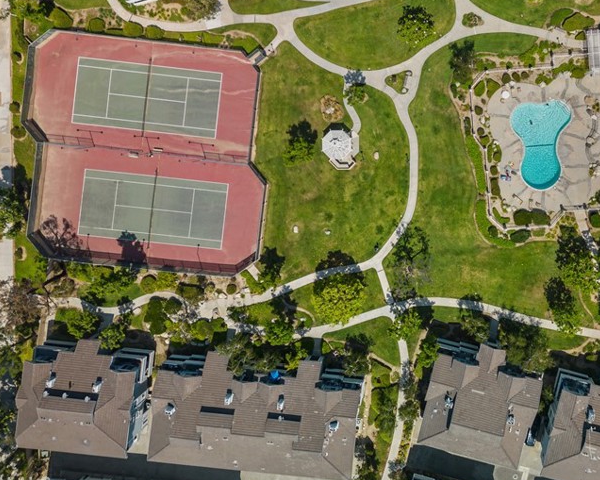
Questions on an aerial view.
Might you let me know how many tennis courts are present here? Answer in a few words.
2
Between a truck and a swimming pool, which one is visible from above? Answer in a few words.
swimming pool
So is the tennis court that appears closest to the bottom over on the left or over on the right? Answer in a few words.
left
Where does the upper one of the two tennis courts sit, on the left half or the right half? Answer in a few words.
left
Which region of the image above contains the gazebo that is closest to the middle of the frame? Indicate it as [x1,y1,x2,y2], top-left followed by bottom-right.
[322,129,359,170]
